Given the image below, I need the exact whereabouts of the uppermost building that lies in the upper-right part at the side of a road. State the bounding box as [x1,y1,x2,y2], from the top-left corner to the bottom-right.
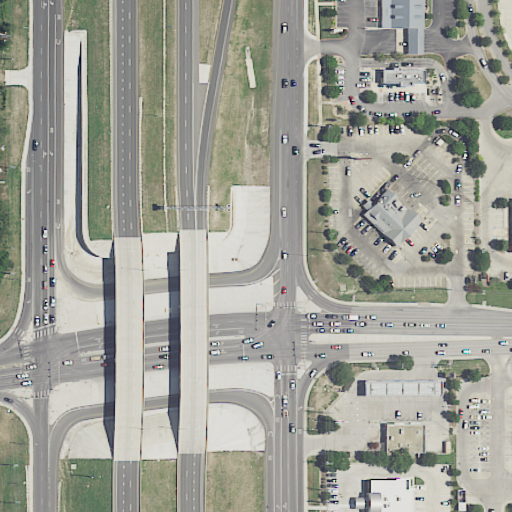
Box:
[382,0,426,54]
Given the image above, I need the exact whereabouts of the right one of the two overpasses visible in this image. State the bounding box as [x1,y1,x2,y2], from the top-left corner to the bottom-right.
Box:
[178,230,207,456]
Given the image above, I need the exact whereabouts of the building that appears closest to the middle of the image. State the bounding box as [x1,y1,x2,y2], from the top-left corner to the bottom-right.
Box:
[366,190,420,244]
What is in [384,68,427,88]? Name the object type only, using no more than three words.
building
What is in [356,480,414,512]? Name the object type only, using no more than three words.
building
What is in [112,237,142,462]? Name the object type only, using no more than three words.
overpass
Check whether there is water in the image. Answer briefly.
No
